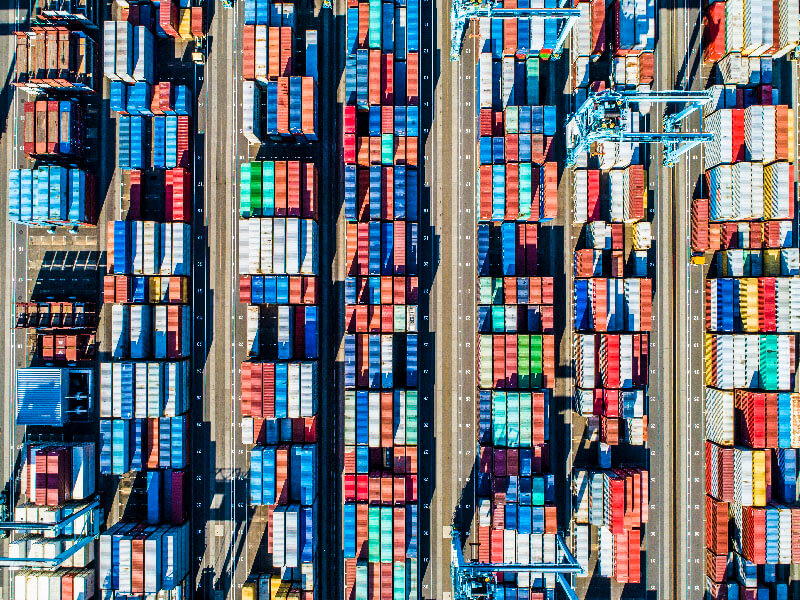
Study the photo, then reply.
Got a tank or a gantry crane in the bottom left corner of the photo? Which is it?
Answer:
gantry crane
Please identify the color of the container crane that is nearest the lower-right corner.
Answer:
blue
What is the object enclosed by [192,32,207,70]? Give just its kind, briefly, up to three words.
vehicle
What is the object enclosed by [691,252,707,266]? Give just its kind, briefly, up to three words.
vehicle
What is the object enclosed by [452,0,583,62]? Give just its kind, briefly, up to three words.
container crane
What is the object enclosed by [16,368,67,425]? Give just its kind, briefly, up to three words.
shed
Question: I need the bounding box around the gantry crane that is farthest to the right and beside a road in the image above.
[566,88,713,170]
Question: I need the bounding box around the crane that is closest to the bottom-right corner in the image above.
[452,527,583,600]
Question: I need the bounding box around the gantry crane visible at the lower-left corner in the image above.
[0,491,104,574]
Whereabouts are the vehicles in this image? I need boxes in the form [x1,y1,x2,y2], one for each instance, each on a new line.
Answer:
[691,252,707,266]
[192,32,207,70]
